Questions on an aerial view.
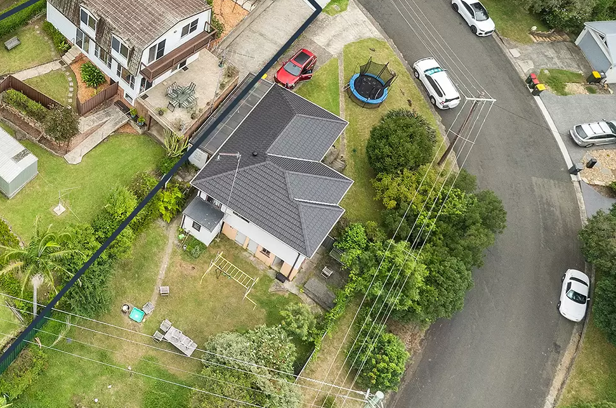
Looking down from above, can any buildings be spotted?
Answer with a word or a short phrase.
Yes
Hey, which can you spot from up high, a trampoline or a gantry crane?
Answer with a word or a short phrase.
trampoline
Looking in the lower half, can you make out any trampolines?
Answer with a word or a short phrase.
No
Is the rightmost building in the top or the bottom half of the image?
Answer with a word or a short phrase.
top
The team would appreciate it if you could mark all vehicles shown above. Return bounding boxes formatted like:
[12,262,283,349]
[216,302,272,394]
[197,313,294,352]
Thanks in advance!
[411,58,469,114]
[276,45,320,94]
[562,114,616,149]
[446,0,501,38]
[553,262,596,328]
